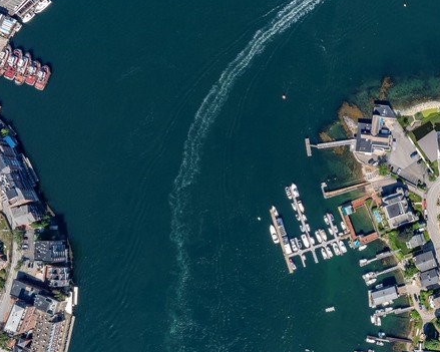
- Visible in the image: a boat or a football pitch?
boat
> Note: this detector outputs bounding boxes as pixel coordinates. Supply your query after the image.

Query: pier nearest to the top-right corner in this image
[305,138,356,157]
